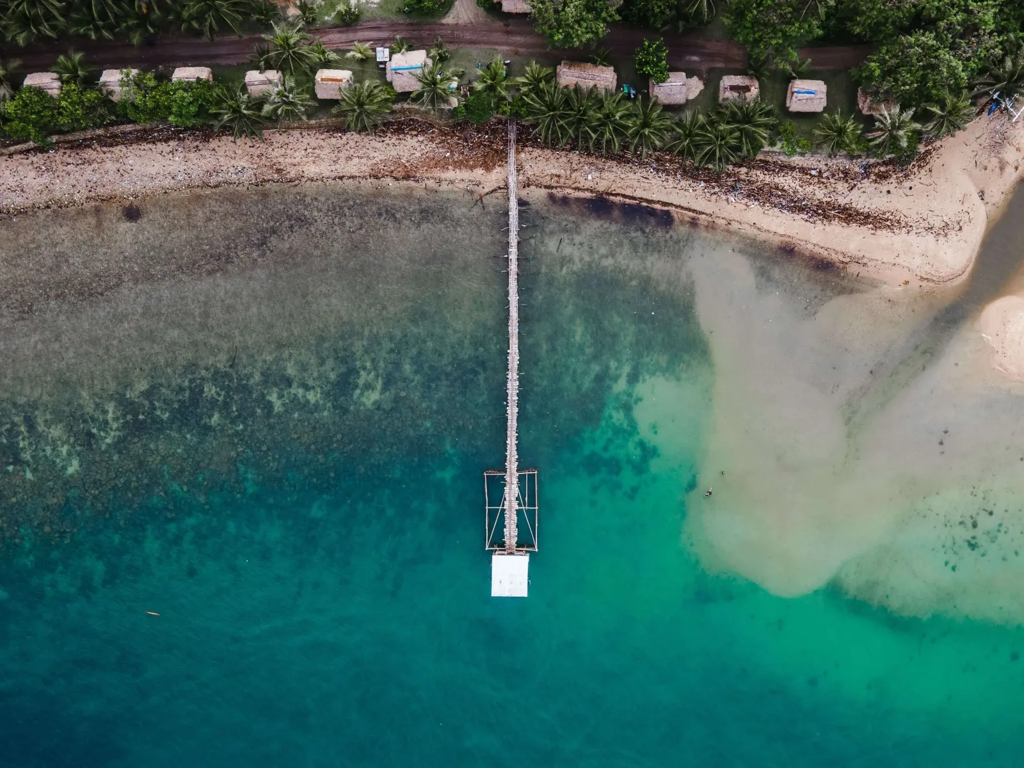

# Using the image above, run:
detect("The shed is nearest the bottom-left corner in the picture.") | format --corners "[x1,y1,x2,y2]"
[491,538,532,596]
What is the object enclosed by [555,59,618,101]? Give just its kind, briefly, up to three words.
shed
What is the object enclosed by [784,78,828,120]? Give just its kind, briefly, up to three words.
shed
